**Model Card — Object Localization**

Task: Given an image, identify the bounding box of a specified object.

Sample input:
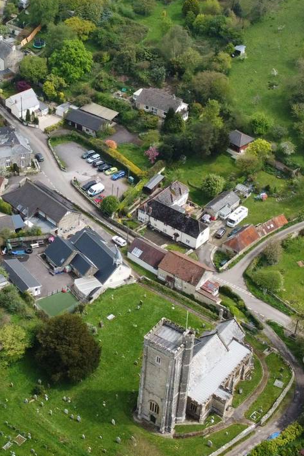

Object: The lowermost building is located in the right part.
[136,311,254,432]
